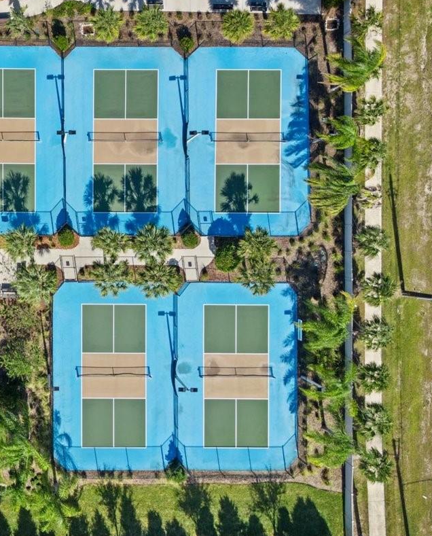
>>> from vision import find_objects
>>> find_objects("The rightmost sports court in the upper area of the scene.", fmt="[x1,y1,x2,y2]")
[186,49,311,236]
